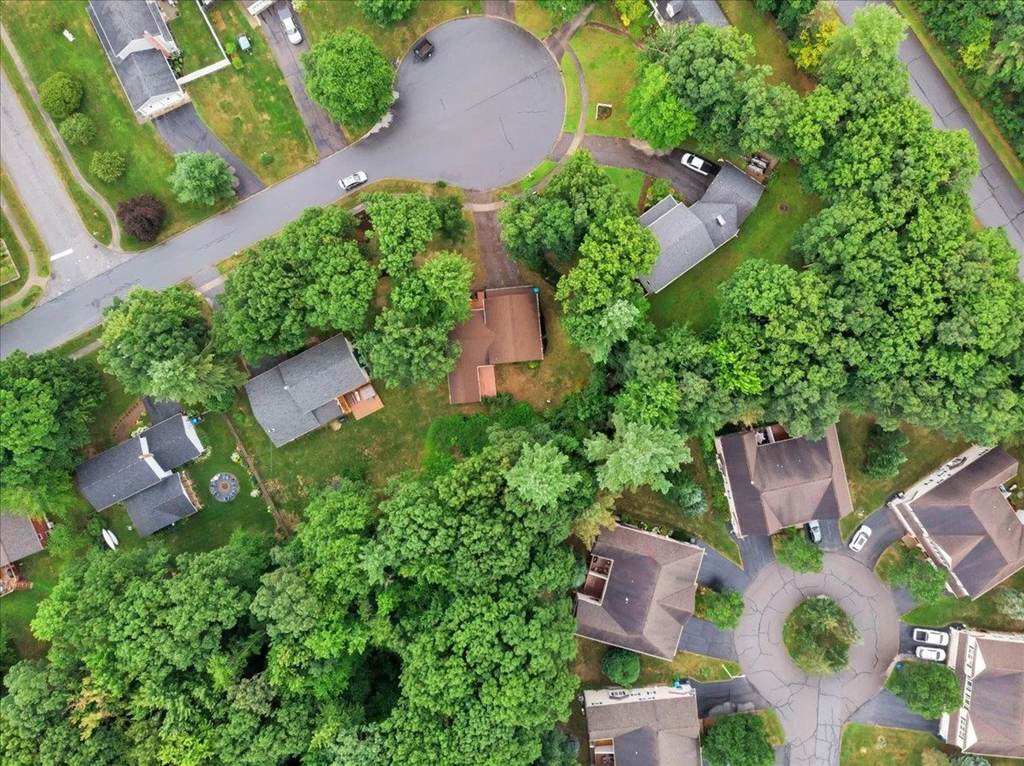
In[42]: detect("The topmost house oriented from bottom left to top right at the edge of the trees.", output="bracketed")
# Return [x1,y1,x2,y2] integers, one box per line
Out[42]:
[625,152,765,290]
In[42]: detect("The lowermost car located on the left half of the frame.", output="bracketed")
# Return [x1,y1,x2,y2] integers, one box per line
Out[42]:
[337,170,367,188]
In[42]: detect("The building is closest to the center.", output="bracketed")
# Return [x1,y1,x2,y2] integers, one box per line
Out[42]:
[445,284,544,405]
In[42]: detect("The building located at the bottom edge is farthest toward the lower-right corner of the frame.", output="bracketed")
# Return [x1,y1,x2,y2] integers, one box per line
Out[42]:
[938,627,1024,761]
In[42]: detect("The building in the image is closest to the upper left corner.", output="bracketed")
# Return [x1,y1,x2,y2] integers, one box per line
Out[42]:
[81,0,188,116]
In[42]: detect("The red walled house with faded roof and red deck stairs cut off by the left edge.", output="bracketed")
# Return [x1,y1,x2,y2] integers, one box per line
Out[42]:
[0,505,54,595]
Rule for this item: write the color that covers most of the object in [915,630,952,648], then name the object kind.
white vehicle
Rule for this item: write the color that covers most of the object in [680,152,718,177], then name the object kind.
white truck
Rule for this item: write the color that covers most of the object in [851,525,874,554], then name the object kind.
white car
